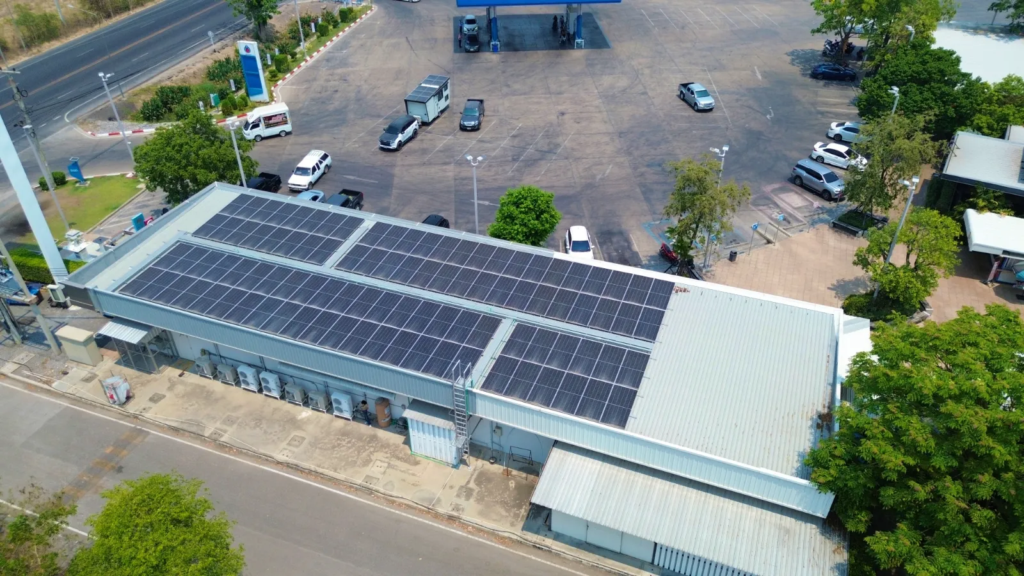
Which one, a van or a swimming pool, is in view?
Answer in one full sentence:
Visible in the photo is a van.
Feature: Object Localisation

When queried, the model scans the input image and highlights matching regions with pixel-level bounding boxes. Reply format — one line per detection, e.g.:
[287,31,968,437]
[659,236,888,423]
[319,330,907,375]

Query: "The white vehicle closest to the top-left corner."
[246,107,291,141]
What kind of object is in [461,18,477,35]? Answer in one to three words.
car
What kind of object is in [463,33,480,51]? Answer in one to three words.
car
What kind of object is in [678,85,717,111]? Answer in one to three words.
truck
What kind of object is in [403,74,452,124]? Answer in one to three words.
trailer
